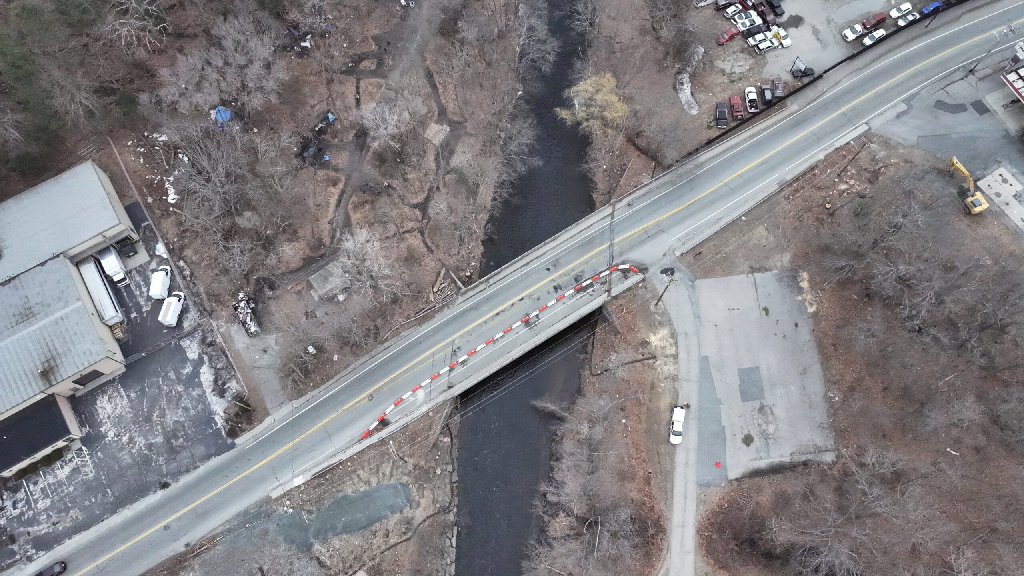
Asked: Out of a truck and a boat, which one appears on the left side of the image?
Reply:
truck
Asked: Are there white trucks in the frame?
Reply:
Yes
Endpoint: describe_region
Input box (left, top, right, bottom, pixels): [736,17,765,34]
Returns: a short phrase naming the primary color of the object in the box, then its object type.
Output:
white car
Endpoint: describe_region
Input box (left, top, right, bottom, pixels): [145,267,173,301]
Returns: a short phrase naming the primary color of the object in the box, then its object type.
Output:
white van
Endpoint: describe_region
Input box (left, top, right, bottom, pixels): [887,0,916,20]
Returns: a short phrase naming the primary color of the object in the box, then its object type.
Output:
white vehicle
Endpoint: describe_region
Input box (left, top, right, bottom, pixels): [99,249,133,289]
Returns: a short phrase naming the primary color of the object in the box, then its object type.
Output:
white truck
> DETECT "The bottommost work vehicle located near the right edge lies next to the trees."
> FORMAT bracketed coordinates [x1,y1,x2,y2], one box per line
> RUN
[943,157,988,221]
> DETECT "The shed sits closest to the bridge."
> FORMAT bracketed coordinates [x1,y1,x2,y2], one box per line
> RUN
[309,261,351,296]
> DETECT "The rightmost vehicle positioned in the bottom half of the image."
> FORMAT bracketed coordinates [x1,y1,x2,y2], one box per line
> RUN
[670,406,686,445]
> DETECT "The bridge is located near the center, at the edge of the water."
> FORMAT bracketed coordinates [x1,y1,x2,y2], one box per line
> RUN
[429,179,622,452]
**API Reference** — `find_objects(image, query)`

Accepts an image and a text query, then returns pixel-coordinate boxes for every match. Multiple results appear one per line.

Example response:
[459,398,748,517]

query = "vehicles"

[744,86,760,114]
[721,3,744,20]
[772,26,792,48]
[155,293,185,328]
[863,10,889,32]
[738,0,752,11]
[943,157,988,221]
[99,249,133,289]
[712,0,740,13]
[759,83,775,106]
[894,10,922,27]
[670,406,686,445]
[730,10,759,27]
[35,560,69,576]
[771,76,785,100]
[753,0,777,26]
[714,26,741,46]
[790,67,817,81]
[740,24,771,42]
[861,27,888,47]
[843,16,878,41]
[729,95,746,122]
[693,0,717,8]
[765,0,788,18]
[745,32,774,50]
[753,39,782,58]
[145,267,173,301]
[887,0,916,20]
[736,17,765,34]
